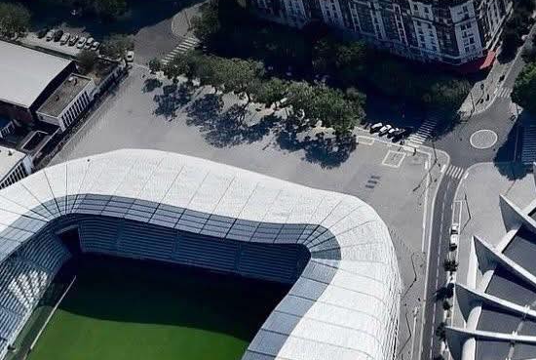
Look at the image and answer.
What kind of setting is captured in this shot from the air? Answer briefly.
sports ground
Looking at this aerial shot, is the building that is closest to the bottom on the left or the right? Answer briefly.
left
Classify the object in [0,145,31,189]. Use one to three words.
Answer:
building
